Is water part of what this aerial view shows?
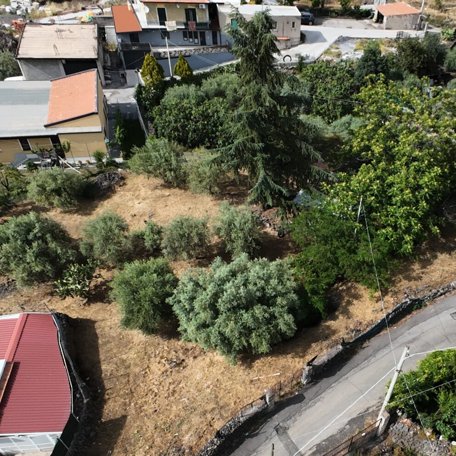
No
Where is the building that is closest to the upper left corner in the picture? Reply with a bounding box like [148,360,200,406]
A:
[17,22,103,90]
